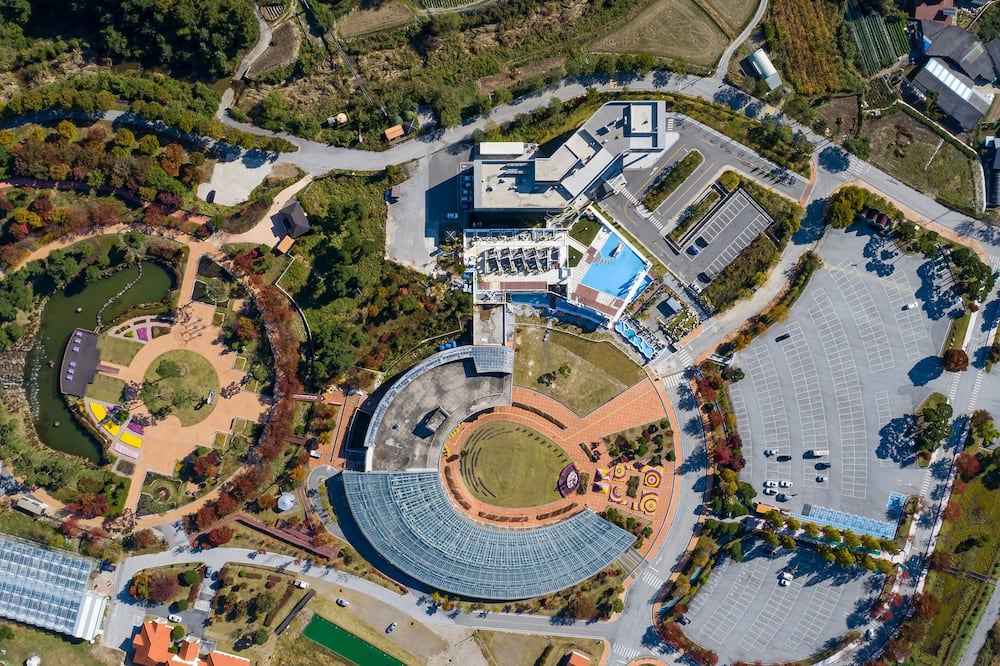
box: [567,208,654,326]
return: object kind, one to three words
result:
swimming pool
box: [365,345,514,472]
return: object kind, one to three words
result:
building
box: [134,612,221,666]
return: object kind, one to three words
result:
house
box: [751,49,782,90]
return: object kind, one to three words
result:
greenhouse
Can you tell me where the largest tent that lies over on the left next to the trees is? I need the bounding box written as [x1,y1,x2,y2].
[278,490,299,510]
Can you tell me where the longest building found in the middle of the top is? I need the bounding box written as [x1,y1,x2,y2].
[474,101,666,215]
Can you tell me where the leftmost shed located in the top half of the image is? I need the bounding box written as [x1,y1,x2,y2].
[271,202,312,240]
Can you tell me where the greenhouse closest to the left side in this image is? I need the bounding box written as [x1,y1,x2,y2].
[0,533,95,637]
